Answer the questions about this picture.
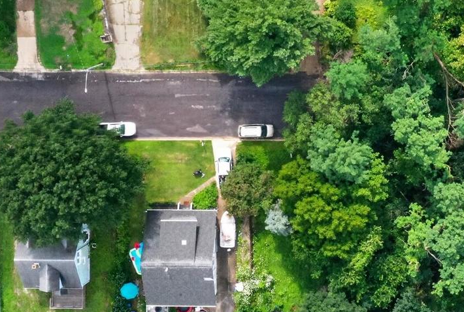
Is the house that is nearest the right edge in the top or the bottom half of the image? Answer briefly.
bottom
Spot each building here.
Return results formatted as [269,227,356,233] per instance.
[13,226,90,291]
[142,209,219,308]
